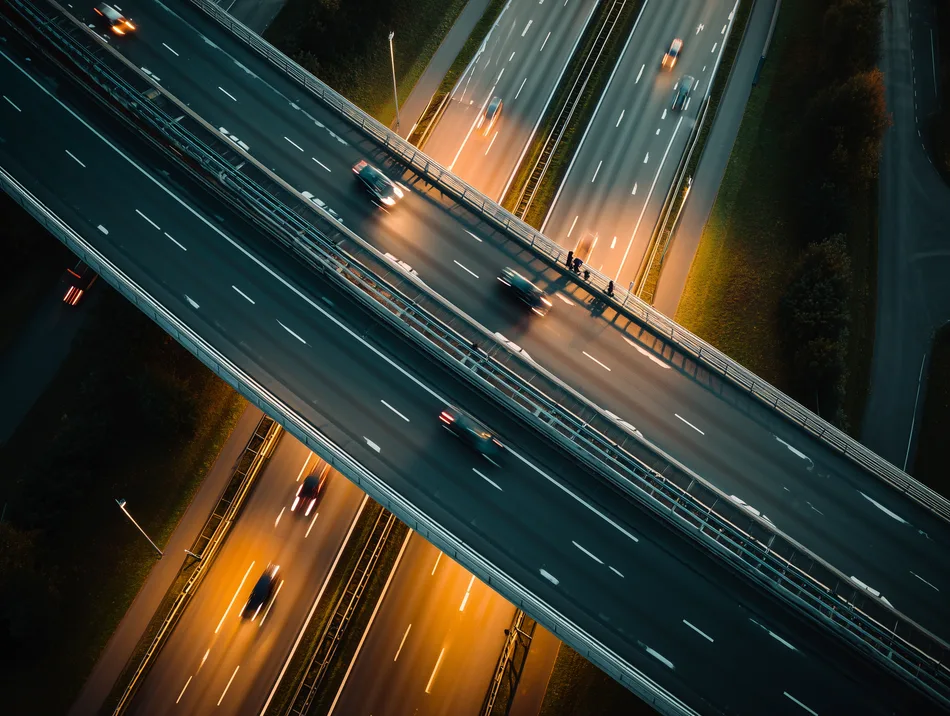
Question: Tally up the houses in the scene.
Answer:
0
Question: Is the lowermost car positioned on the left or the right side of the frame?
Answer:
left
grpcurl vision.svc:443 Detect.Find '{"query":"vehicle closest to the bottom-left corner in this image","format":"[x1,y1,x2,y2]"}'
[239,567,279,621]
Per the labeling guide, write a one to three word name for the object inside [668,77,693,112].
car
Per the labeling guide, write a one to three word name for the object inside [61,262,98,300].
truck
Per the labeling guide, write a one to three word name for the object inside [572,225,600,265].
car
